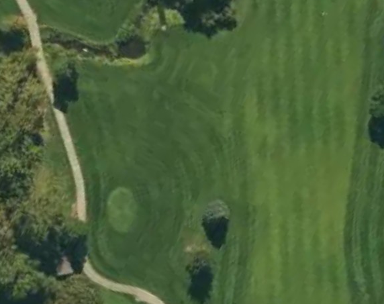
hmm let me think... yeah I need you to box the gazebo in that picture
[56,260,74,277]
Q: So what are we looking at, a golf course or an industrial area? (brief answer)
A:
golf course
